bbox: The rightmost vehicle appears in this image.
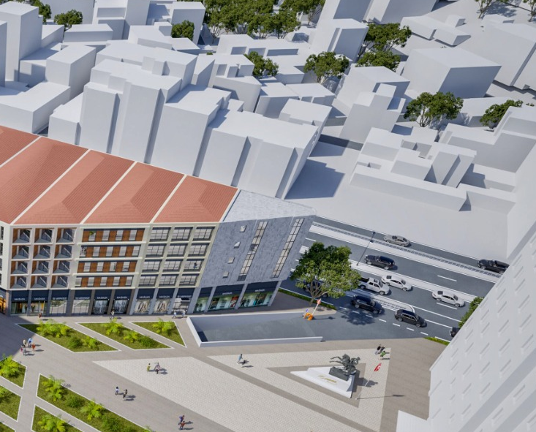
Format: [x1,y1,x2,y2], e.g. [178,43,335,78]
[478,258,509,272]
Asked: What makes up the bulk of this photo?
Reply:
buildings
